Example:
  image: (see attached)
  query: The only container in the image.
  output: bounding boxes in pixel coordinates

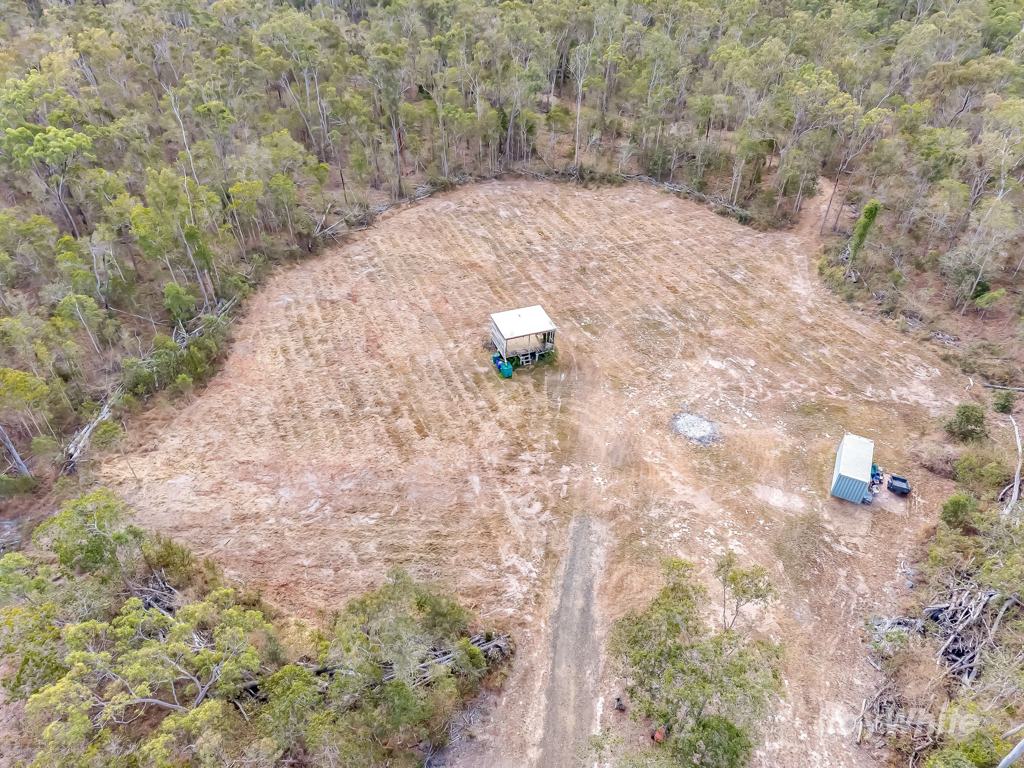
[830,432,874,504]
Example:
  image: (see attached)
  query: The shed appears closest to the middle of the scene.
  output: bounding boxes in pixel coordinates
[490,305,557,365]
